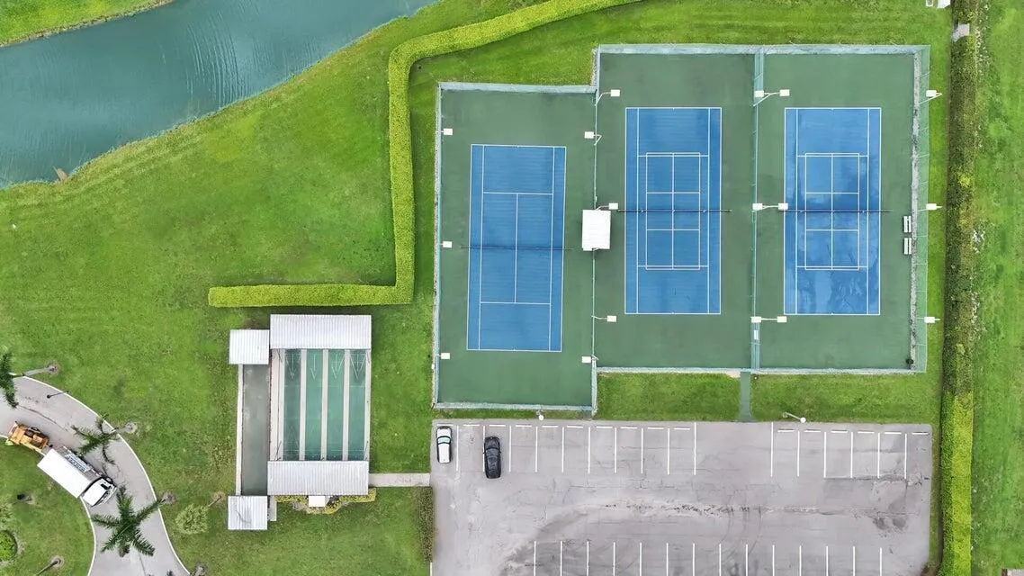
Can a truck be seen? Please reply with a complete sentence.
Yes, there is a truck in the image.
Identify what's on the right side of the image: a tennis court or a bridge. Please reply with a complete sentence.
It is a tennis court that can be seen on the right side of the image.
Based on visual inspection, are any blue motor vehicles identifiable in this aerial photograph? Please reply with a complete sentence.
No, no blue motor vehicle is visible in the view.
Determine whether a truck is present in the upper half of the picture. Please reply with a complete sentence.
No, no truck is visible in the upper half of the picture.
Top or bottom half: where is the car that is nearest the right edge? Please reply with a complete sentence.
You can find the car that is nearest the right edge in the bottom half.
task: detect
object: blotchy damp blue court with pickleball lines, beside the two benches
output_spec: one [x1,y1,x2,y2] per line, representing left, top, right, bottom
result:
[752,54,914,369]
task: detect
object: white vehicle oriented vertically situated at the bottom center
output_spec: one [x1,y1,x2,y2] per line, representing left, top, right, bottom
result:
[435,425,453,464]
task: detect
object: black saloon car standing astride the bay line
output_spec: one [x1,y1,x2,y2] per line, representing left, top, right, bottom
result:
[482,435,502,479]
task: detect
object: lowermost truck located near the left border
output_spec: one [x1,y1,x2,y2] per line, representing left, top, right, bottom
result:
[38,443,120,508]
